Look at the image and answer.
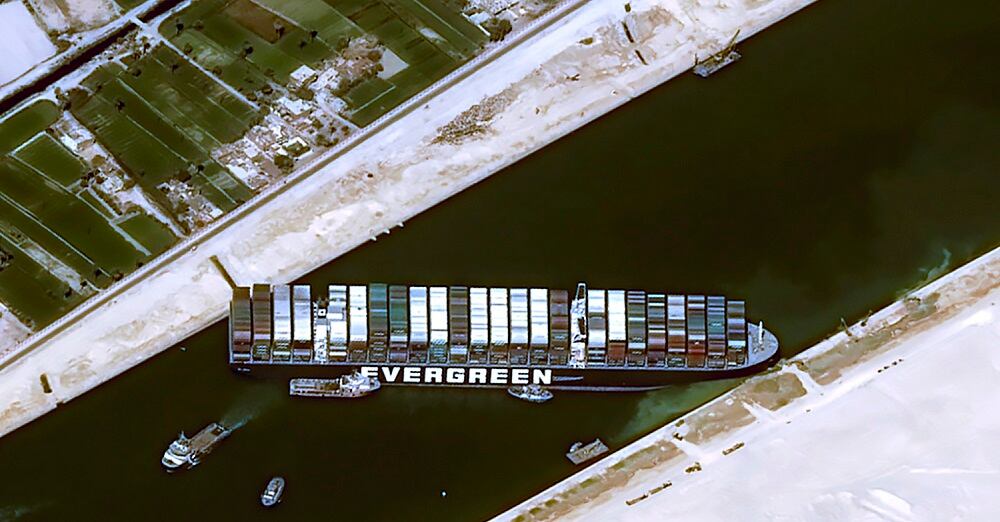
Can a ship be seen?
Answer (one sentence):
Yes, a ship can be made out from above.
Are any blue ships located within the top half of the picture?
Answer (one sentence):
No, I can find no blue ship within the top half of the picture.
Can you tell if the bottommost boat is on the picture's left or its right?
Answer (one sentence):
The bottommost boat appears in the left half of the scene.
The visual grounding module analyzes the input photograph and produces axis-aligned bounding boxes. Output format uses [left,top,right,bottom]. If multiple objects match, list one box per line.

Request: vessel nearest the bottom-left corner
[164,422,229,466]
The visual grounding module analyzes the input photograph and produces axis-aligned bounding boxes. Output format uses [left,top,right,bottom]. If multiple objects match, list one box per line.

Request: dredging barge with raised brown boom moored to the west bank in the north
[694,29,744,80]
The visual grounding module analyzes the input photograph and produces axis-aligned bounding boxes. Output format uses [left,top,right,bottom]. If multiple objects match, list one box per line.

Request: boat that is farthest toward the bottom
[262,480,285,505]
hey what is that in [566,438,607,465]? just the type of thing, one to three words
ship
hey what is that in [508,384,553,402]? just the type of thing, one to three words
boat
